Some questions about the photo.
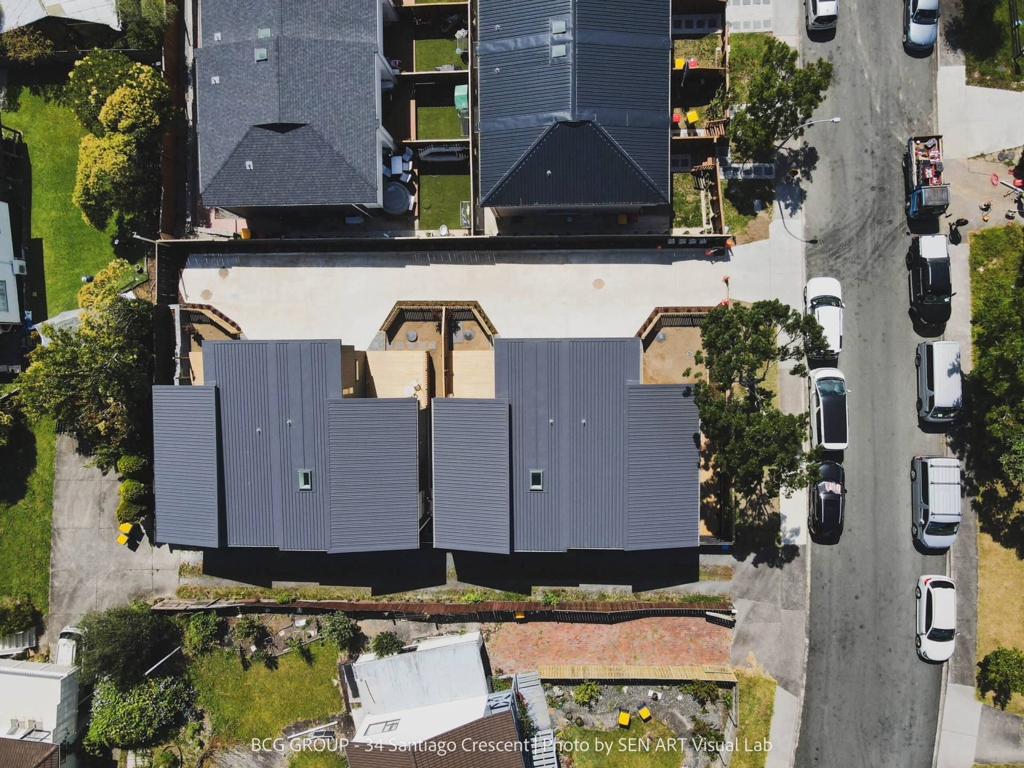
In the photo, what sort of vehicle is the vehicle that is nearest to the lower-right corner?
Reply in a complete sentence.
The vehicle that is nearest to the lower-right corner in the image is a car.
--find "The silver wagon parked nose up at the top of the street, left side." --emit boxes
[798,0,840,33]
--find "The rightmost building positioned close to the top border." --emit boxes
[476,0,673,213]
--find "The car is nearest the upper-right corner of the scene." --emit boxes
[896,0,946,56]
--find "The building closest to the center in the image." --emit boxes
[430,336,702,554]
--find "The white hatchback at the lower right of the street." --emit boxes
[910,573,960,658]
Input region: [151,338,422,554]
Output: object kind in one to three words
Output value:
house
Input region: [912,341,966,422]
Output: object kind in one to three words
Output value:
van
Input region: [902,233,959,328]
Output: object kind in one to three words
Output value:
truck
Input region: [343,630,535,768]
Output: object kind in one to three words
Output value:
house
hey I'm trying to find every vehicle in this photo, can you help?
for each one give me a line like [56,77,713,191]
[800,277,848,362]
[896,0,946,56]
[909,456,967,547]
[910,573,960,658]
[802,456,850,539]
[798,0,840,33]
[805,368,853,451]
[903,133,958,222]
[902,233,959,328]
[912,341,966,422]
